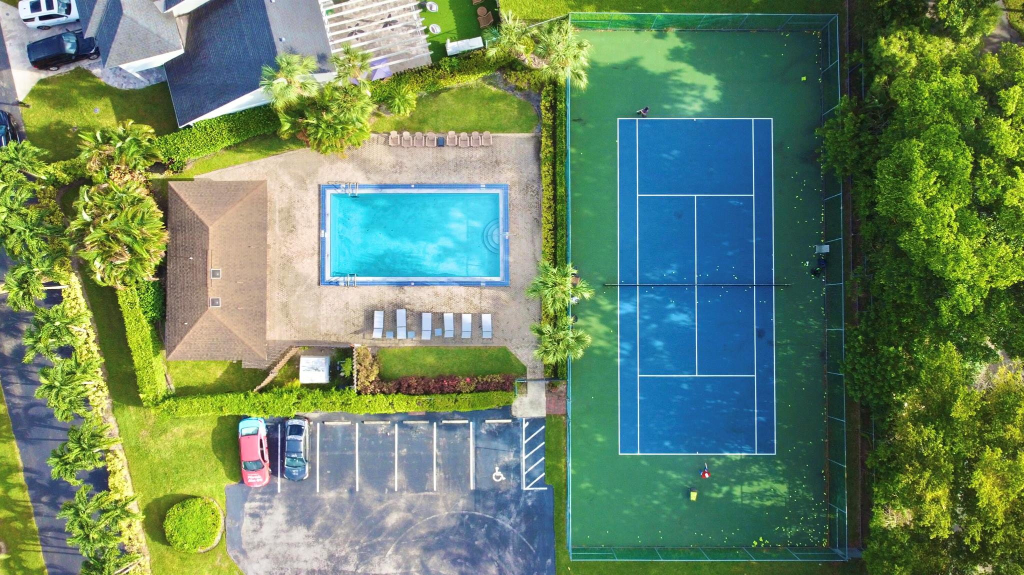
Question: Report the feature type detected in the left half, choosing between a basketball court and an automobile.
automobile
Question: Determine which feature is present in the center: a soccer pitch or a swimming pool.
swimming pool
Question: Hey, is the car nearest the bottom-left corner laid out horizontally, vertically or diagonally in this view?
vertically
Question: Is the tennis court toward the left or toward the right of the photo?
right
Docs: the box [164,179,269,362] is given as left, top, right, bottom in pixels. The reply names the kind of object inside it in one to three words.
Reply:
building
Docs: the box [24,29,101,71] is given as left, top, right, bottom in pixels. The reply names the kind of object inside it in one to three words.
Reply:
car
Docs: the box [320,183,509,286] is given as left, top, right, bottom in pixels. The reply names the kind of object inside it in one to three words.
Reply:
swimming pool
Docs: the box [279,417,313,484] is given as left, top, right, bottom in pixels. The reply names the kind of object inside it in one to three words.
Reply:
car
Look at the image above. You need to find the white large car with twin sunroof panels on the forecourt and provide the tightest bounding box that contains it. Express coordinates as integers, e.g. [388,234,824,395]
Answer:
[11,0,86,33]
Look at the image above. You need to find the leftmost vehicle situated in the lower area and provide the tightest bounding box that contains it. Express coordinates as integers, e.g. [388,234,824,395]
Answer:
[237,418,272,488]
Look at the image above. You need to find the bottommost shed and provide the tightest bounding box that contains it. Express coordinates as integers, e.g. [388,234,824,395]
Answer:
[300,355,335,384]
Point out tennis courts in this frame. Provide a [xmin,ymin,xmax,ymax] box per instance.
[567,30,829,547]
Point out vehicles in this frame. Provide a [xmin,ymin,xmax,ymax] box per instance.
[279,417,313,484]
[0,100,21,145]
[24,29,101,71]
[11,0,86,33]
[237,418,272,488]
